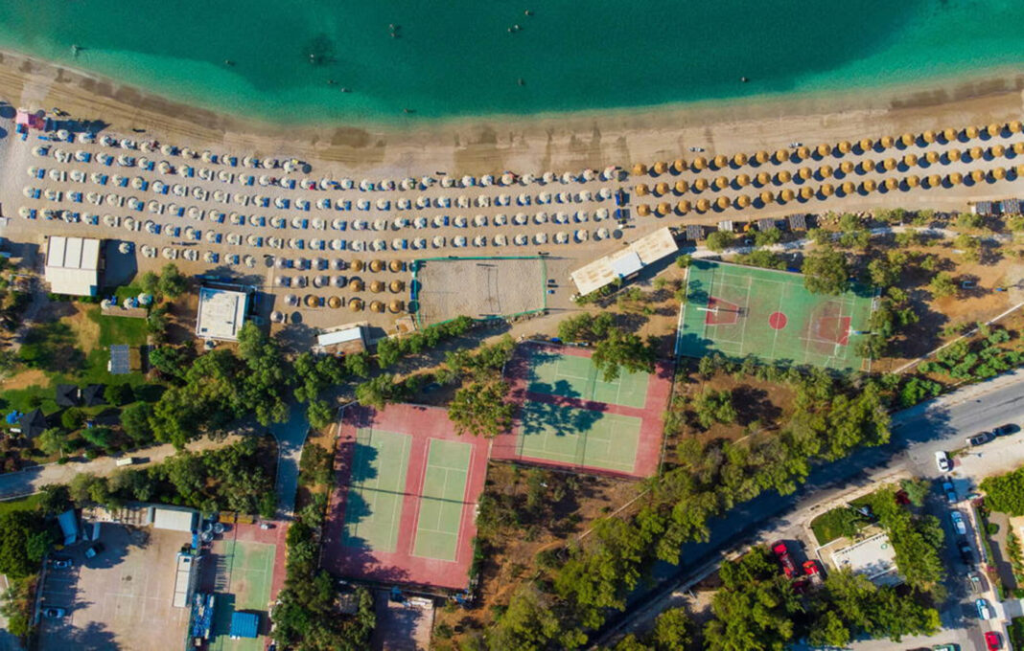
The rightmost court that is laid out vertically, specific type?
tennis court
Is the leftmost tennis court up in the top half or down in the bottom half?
bottom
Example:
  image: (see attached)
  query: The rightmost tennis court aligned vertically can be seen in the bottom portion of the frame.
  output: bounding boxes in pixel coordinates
[400,406,491,590]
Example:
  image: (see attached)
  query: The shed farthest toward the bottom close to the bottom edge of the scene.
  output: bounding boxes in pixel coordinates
[230,608,263,639]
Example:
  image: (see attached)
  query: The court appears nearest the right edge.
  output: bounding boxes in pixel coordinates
[677,259,874,376]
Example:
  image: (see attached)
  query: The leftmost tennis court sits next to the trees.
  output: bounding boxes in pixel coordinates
[190,521,287,651]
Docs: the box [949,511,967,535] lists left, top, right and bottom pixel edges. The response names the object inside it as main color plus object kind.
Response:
blue car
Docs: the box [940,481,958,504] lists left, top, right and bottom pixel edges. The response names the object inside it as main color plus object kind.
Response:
blue car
